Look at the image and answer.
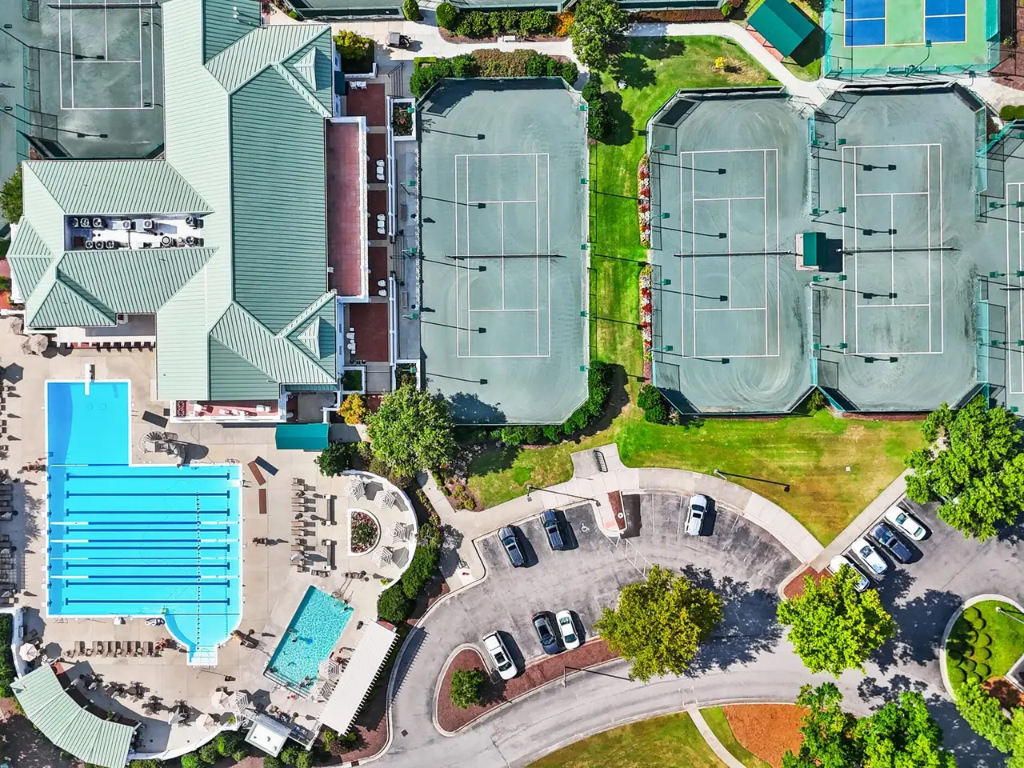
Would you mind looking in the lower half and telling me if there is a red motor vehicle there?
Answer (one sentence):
No, the scene shows no red motor vehicle in the lower half.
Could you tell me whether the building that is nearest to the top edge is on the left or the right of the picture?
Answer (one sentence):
The building that is nearest to the top edge appears in the right half of the scene.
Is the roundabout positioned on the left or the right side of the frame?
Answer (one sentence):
You can find the roundabout on the right side of the picture.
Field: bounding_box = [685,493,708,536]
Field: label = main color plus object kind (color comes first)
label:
white car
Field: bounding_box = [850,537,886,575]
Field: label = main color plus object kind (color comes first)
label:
white car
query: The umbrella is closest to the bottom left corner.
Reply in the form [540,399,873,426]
[21,641,42,661]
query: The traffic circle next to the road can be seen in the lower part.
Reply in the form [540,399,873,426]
[941,596,1024,703]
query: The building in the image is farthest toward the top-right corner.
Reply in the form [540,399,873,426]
[746,0,815,63]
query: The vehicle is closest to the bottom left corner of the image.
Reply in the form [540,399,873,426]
[486,631,515,675]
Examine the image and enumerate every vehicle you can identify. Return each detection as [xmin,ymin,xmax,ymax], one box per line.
[498,523,527,568]
[831,555,867,589]
[556,608,580,649]
[685,493,708,536]
[885,505,926,541]
[486,631,515,675]
[532,611,559,652]
[850,537,886,575]
[869,522,911,564]
[388,31,410,48]
[540,506,567,552]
